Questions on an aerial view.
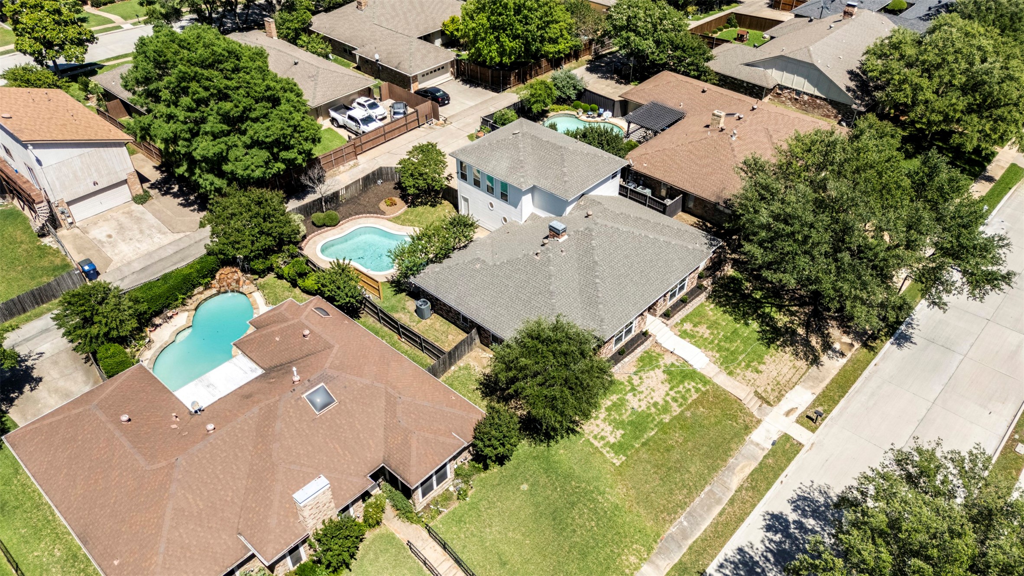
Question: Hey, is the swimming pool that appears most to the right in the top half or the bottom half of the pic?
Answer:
top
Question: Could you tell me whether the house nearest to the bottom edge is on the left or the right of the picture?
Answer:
left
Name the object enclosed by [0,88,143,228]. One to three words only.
house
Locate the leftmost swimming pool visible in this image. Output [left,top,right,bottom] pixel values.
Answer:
[145,285,263,393]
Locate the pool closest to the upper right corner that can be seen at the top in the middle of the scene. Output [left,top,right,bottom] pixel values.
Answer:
[539,110,628,140]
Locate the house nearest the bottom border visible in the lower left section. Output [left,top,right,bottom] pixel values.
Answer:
[0,294,481,576]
